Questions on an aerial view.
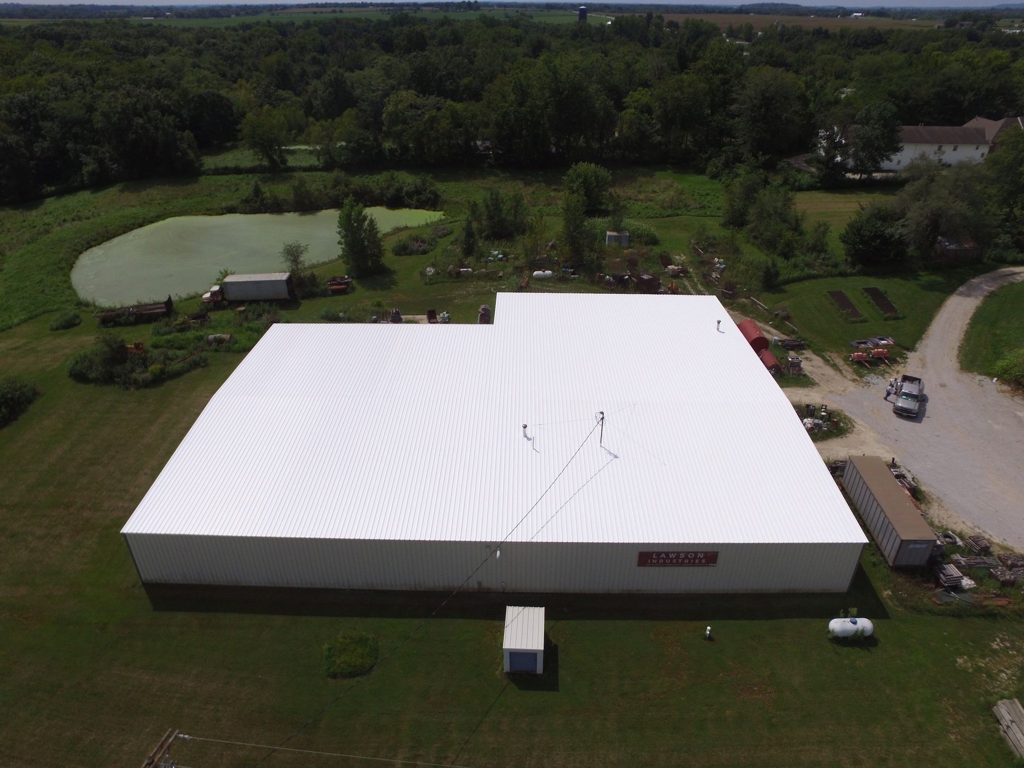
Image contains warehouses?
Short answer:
Yes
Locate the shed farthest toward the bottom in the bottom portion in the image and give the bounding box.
[504,607,545,674]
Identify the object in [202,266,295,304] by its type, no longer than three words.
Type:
truck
